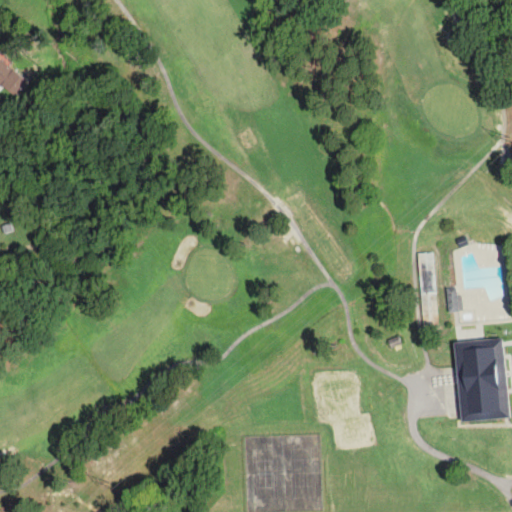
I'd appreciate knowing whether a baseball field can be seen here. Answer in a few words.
No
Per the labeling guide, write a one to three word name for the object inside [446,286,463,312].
building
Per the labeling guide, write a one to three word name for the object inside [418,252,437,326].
shed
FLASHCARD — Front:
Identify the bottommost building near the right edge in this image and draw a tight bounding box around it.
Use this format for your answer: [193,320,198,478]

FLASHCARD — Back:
[454,338,509,422]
